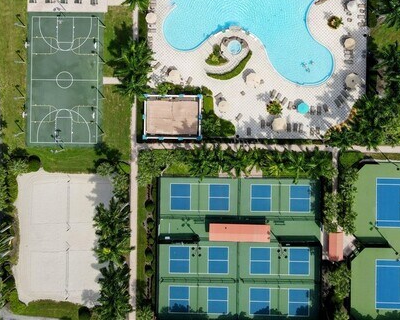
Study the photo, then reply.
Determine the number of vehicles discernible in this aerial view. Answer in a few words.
0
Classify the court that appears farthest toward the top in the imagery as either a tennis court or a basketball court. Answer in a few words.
basketball court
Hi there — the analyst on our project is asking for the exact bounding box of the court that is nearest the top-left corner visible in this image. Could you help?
[30,17,99,143]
